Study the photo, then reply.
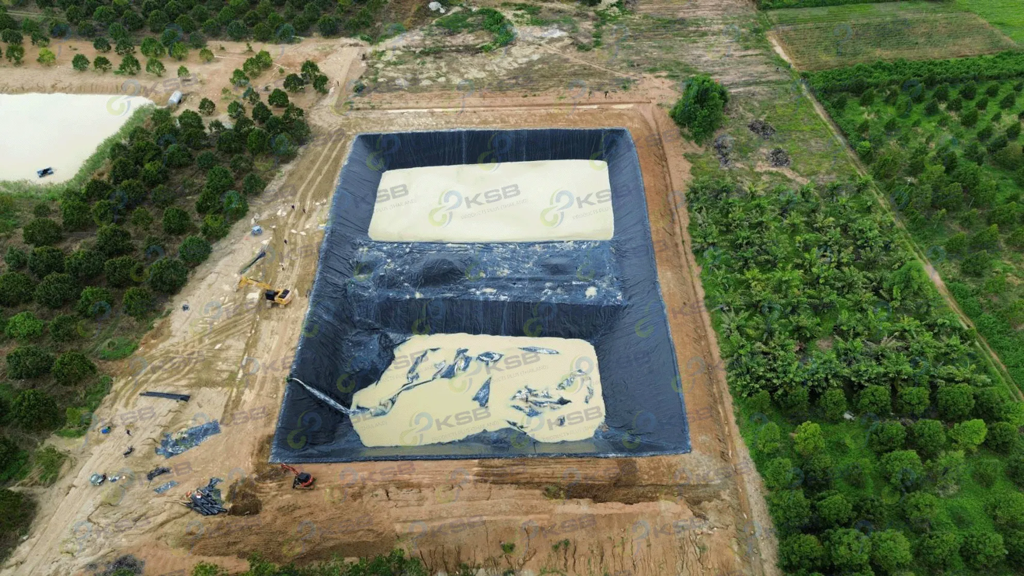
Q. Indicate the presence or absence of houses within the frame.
No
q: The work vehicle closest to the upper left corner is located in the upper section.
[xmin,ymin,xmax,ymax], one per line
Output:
[249,222,263,238]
